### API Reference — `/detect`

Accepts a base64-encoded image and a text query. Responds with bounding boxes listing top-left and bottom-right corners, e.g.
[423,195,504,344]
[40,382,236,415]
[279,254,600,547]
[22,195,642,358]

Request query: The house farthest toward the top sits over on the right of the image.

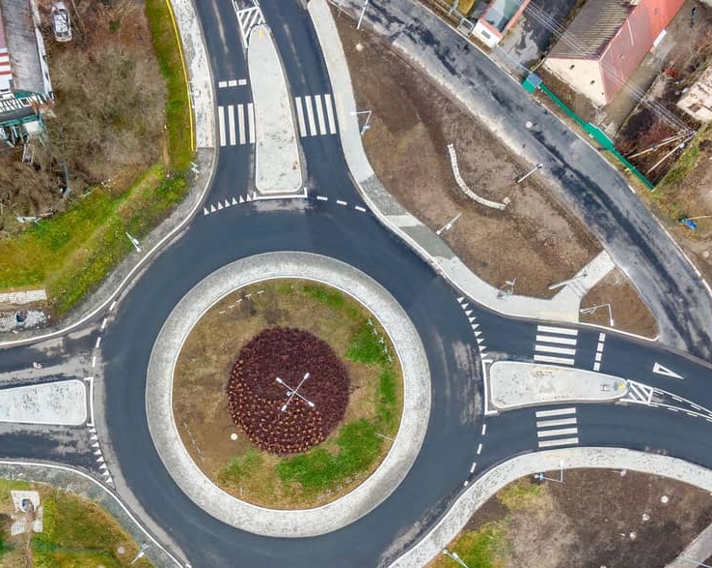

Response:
[473,0,534,49]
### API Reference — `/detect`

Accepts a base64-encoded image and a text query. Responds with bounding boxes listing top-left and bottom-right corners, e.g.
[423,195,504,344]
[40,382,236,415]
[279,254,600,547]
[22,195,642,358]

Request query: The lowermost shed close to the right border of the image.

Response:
[672,72,712,124]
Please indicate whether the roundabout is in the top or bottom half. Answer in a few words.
bottom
